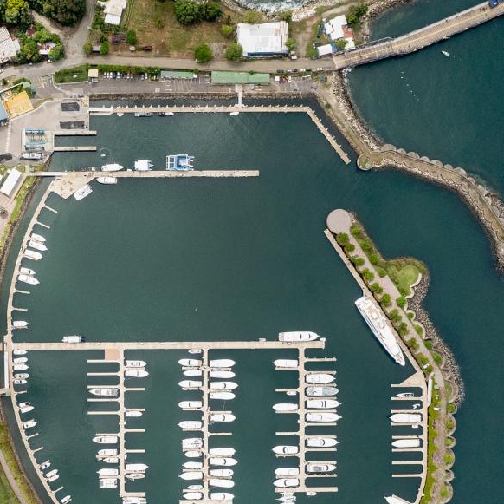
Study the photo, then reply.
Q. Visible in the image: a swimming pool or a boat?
boat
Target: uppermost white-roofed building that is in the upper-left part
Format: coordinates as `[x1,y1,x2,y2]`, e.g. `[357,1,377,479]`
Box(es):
[99,0,126,27]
